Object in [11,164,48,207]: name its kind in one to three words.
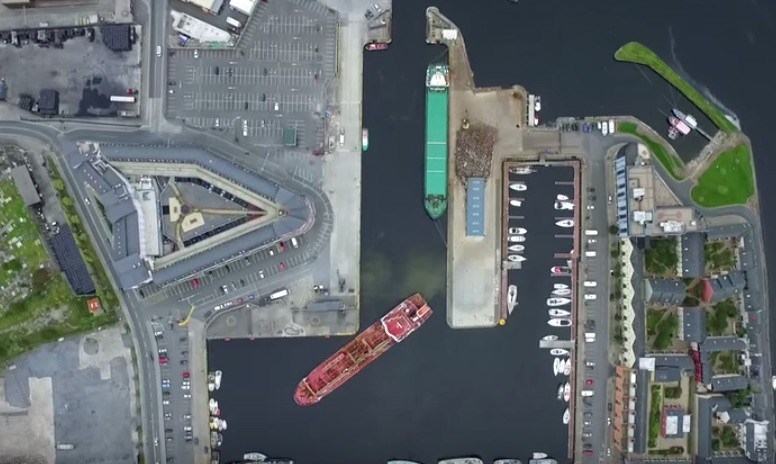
building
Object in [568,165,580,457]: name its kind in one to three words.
pier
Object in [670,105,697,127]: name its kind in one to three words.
boat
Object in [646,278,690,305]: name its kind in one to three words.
house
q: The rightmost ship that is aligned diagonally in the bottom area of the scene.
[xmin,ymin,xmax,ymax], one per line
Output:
[293,293,432,406]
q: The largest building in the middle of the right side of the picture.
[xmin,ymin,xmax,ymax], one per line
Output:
[616,160,695,236]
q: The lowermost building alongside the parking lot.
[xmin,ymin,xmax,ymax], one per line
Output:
[74,141,313,290]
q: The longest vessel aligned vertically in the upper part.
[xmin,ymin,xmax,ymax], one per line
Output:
[424,64,448,220]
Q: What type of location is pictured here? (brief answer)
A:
port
